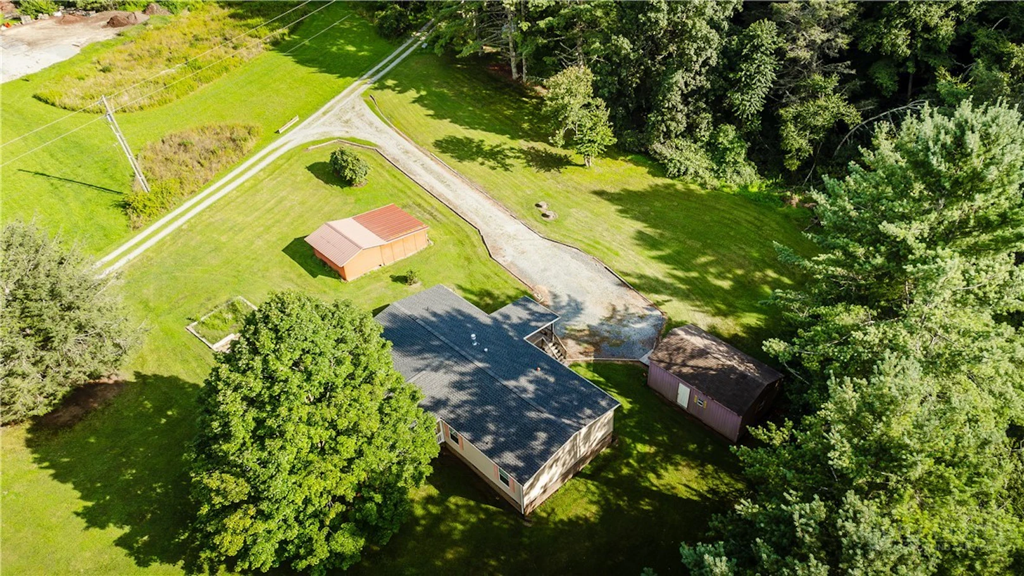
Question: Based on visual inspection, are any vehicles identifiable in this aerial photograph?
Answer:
No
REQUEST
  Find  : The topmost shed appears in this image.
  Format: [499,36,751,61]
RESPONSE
[306,204,429,282]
